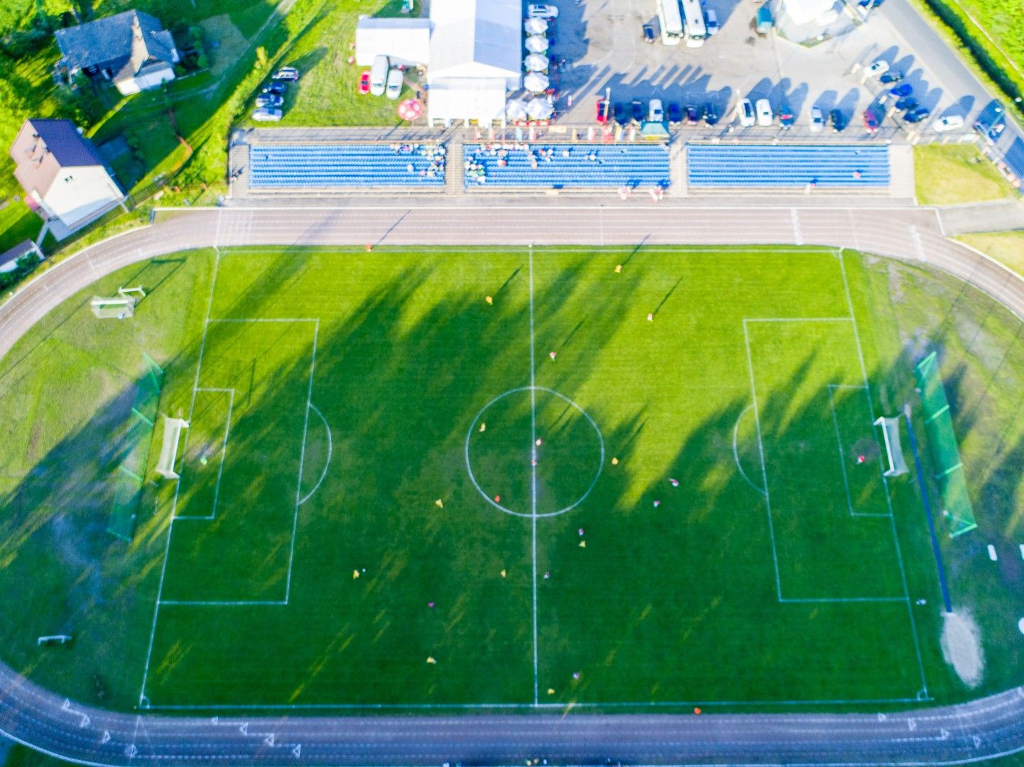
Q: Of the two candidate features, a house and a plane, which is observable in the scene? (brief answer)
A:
house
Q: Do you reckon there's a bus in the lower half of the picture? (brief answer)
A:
No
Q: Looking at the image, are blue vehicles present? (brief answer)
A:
Yes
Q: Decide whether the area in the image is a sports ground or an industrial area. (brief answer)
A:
sports ground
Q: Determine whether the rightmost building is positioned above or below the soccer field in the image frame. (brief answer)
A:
above it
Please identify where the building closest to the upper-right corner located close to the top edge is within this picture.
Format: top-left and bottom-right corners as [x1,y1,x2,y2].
[773,0,864,49]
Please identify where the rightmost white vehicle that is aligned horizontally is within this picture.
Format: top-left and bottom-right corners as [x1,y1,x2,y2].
[932,114,964,131]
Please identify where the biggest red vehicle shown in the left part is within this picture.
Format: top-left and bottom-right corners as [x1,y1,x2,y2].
[358,73,371,95]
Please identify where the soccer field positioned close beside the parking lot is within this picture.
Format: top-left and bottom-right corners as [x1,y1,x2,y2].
[116,244,957,712]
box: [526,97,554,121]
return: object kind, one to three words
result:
umbrella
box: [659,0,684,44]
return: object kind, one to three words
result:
bus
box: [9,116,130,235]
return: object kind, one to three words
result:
house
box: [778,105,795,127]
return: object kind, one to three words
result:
car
